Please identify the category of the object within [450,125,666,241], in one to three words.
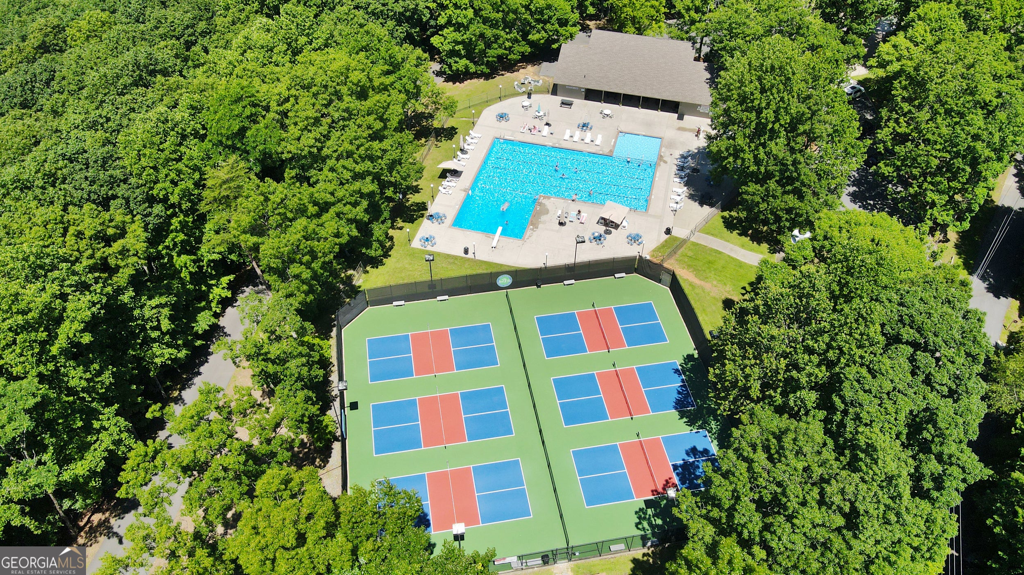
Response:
swimming pool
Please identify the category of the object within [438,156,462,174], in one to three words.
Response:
umbrella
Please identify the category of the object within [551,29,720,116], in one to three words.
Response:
building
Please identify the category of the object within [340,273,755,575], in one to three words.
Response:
sports court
